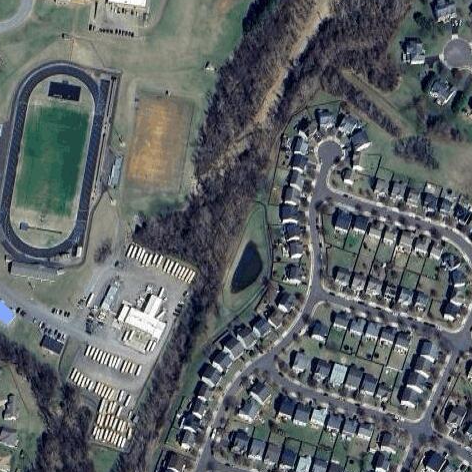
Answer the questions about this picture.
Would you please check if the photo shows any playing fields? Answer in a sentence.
Yes, a playing field is visible in the scene.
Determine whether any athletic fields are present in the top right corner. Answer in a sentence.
No, the scene shows no athletic field in the top right corner.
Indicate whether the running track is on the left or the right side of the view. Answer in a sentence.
It is on the left.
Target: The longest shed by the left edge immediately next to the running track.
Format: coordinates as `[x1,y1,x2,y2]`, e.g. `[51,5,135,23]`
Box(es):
[11,262,59,280]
